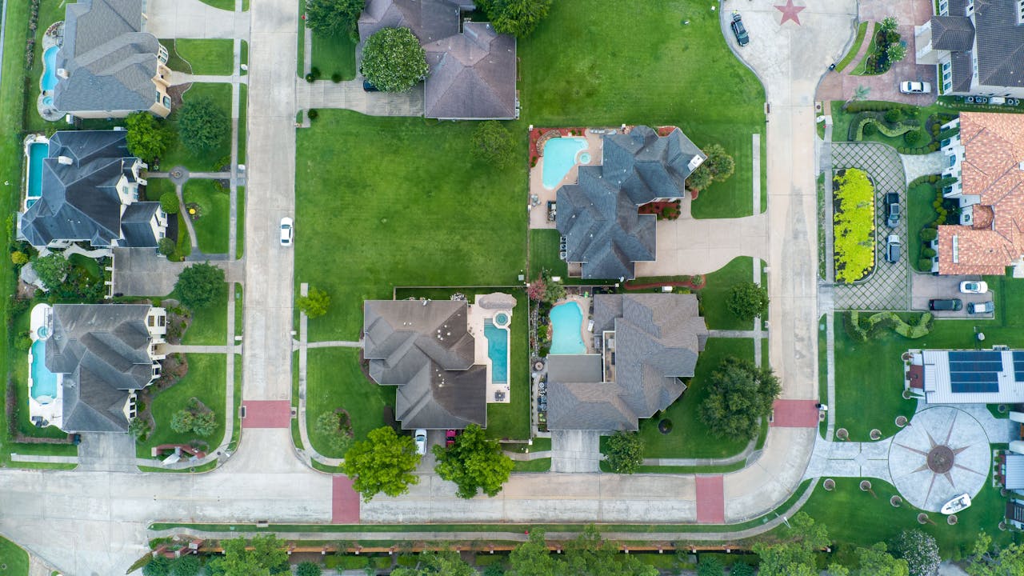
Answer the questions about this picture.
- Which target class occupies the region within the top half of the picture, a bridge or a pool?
pool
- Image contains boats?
Yes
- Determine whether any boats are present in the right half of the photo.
Yes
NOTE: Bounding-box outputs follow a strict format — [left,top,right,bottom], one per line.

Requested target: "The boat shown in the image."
[936,491,974,515]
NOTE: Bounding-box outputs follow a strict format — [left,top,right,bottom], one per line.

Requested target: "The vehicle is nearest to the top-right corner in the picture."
[899,79,930,93]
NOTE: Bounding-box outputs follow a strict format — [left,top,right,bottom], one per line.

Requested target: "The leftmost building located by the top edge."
[54,0,178,117]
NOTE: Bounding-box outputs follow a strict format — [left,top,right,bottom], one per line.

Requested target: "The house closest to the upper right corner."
[906,0,1024,97]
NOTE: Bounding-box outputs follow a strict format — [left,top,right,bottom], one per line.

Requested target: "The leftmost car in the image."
[279,218,293,246]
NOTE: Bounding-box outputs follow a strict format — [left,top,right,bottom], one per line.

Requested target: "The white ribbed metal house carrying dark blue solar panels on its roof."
[905,348,1024,405]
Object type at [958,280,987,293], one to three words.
vehicle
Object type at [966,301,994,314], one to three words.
vehicle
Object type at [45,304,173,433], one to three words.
house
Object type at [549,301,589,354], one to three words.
swimming pool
